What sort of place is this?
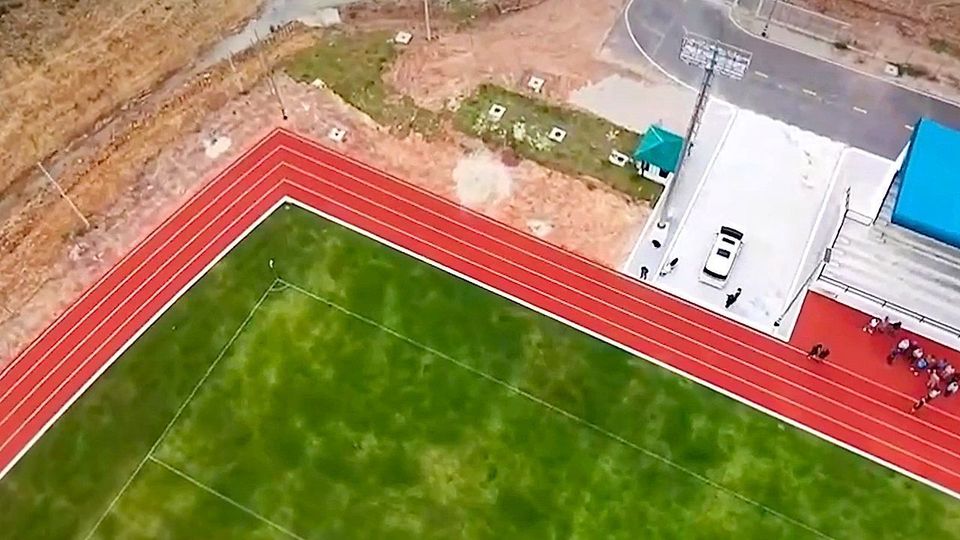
sports ground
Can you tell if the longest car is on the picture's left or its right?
right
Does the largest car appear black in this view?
No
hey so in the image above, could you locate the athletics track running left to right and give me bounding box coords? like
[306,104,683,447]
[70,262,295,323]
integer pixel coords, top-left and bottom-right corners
[0,127,960,502]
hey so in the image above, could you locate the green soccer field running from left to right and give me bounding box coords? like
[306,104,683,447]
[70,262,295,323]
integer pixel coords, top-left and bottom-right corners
[0,202,960,540]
